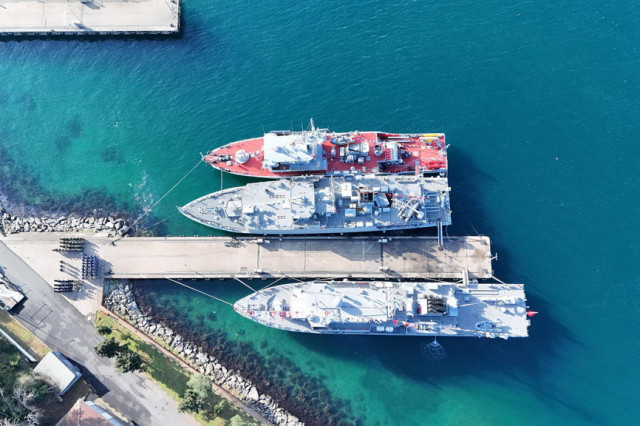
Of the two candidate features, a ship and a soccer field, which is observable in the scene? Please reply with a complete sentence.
It is a ship that can be seen here.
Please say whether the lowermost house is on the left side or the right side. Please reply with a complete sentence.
You can find the lowermost house on the left side of the picture.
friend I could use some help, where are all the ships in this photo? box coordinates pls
[201,118,451,181]
[231,277,536,337]
[178,170,452,235]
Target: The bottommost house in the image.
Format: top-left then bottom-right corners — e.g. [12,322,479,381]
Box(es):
[61,397,128,426]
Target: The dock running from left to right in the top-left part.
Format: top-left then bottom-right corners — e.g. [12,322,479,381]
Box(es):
[0,0,186,39]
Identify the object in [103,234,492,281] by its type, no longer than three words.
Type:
pier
